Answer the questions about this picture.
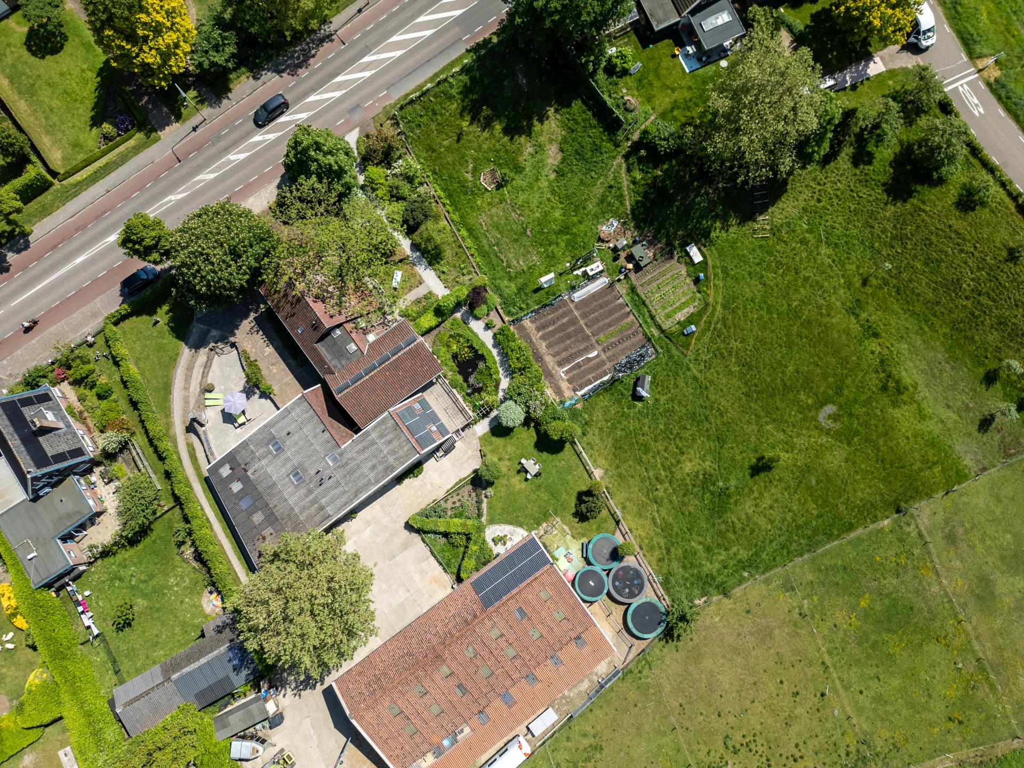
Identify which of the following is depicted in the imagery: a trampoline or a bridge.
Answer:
trampoline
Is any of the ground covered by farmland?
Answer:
Yes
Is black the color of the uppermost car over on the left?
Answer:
Yes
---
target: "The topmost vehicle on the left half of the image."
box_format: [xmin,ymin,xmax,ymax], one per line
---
[253,96,289,125]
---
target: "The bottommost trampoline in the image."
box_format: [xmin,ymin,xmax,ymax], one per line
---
[625,596,667,639]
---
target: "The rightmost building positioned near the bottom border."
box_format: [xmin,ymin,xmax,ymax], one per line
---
[331,532,617,768]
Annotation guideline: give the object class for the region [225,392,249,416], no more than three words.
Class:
umbrella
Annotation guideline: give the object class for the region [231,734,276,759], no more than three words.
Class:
trailer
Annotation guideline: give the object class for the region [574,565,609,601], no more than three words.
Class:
trampoline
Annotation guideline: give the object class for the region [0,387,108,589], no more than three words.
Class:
house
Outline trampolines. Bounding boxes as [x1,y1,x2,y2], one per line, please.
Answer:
[574,565,609,601]
[625,596,667,639]
[587,533,622,569]
[608,561,649,604]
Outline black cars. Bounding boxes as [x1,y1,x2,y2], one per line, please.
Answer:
[117,267,158,296]
[253,96,289,125]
